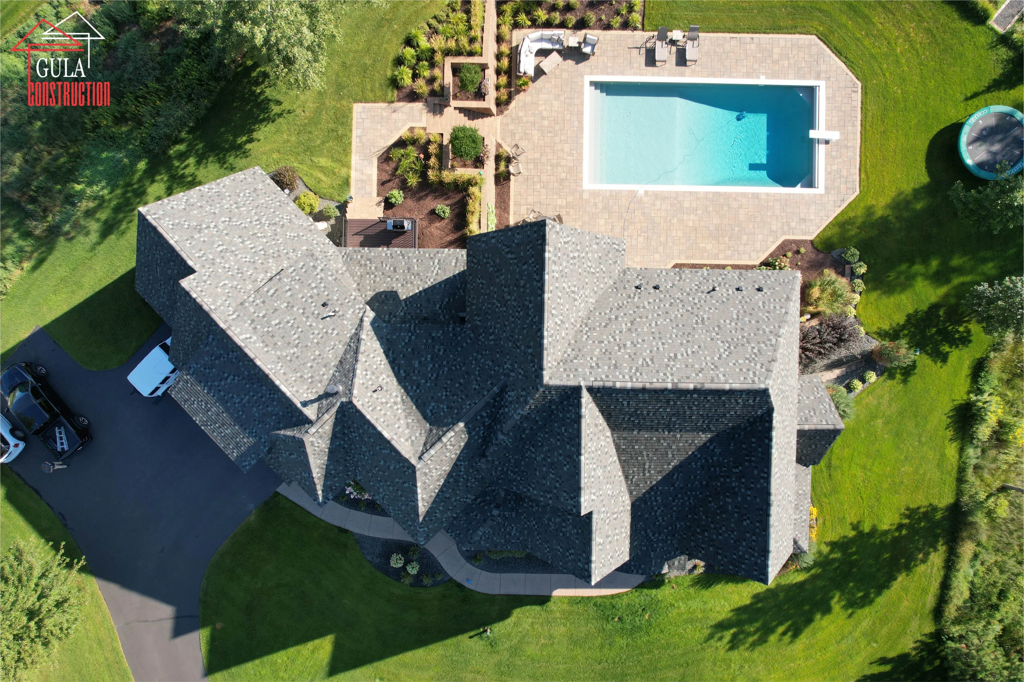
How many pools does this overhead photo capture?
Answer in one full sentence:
In total, there is 1 pool in the scene.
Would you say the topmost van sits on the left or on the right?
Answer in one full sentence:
It is on the left.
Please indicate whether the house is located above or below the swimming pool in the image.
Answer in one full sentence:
It's below the swimming pool that the house shows up.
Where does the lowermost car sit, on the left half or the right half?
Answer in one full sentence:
The lowermost car appears in the left half of the scene.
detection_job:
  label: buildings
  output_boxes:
[135,166,844,586]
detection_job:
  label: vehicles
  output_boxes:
[0,354,96,460]
[121,327,181,402]
[0,412,29,469]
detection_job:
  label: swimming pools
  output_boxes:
[583,69,826,199]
